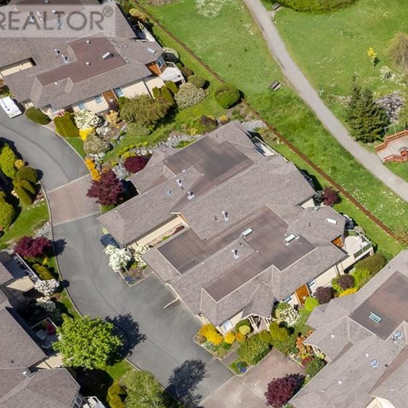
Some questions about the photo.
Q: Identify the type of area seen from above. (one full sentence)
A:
What you see here is a residential area.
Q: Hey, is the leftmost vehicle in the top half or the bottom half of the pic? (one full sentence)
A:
You can find the leftmost vehicle in the top half.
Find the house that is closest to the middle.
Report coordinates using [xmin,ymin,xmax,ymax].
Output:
[95,118,374,335]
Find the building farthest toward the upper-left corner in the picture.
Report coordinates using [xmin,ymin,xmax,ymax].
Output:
[0,0,188,125]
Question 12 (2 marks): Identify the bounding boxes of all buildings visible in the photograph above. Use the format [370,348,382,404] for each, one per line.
[95,118,374,335]
[0,0,188,125]
[0,248,106,408]
[287,253,408,408]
